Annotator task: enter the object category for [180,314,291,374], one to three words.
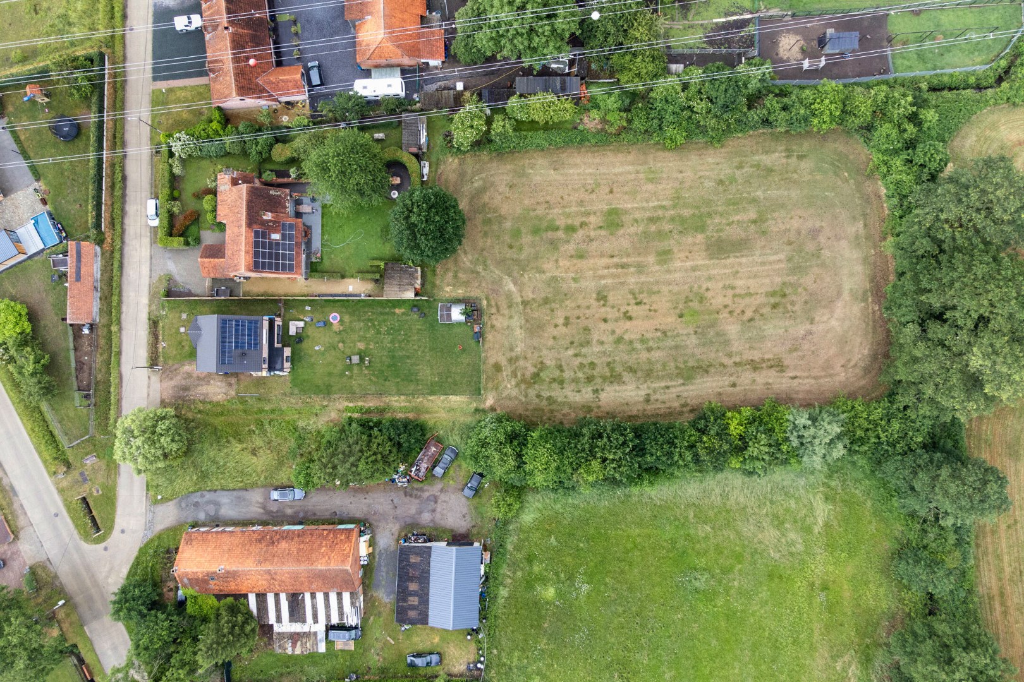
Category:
house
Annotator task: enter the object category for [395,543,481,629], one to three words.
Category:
shed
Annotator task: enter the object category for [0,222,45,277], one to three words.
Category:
building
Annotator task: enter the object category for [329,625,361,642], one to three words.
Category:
car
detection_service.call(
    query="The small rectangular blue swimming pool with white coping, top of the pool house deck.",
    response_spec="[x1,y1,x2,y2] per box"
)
[30,212,59,249]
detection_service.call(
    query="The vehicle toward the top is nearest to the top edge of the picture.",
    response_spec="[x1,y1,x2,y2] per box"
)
[173,15,203,32]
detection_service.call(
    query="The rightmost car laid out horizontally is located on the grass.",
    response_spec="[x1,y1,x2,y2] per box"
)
[407,652,440,668]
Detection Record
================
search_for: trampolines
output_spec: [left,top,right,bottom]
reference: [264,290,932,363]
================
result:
[41,111,78,142]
